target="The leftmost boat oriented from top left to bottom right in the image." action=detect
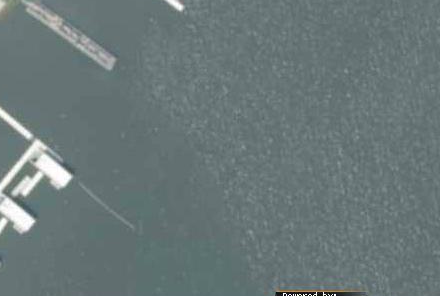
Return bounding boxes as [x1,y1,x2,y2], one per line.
[0,193,37,232]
